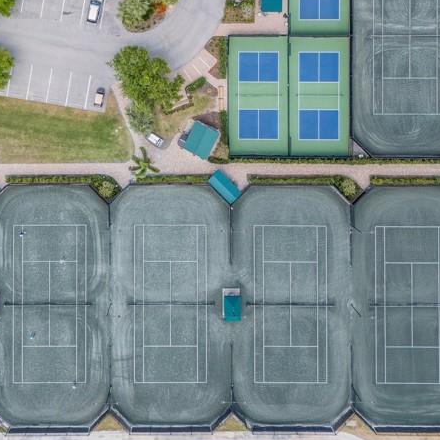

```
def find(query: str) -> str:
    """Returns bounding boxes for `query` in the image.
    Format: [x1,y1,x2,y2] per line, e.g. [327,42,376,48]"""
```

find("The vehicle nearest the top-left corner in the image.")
[86,0,102,23]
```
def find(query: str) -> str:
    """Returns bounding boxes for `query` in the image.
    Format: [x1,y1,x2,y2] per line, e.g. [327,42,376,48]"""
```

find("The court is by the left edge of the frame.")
[0,186,110,427]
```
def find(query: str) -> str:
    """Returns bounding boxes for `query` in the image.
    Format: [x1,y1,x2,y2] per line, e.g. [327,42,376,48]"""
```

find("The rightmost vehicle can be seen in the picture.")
[143,130,166,150]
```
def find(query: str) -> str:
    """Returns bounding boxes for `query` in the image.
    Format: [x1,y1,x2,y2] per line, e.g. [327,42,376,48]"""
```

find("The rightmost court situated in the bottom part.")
[351,187,440,427]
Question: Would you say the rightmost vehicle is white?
Yes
